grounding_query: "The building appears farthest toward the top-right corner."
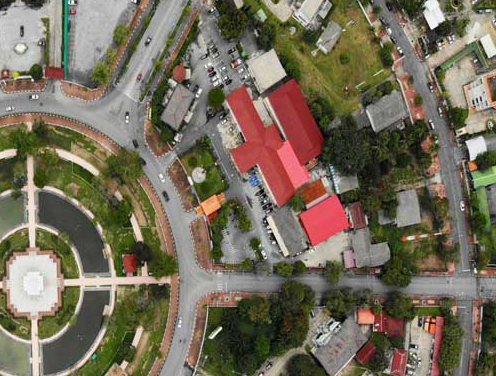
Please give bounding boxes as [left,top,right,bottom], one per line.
[476,34,496,61]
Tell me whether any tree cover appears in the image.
Yes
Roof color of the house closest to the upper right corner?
white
